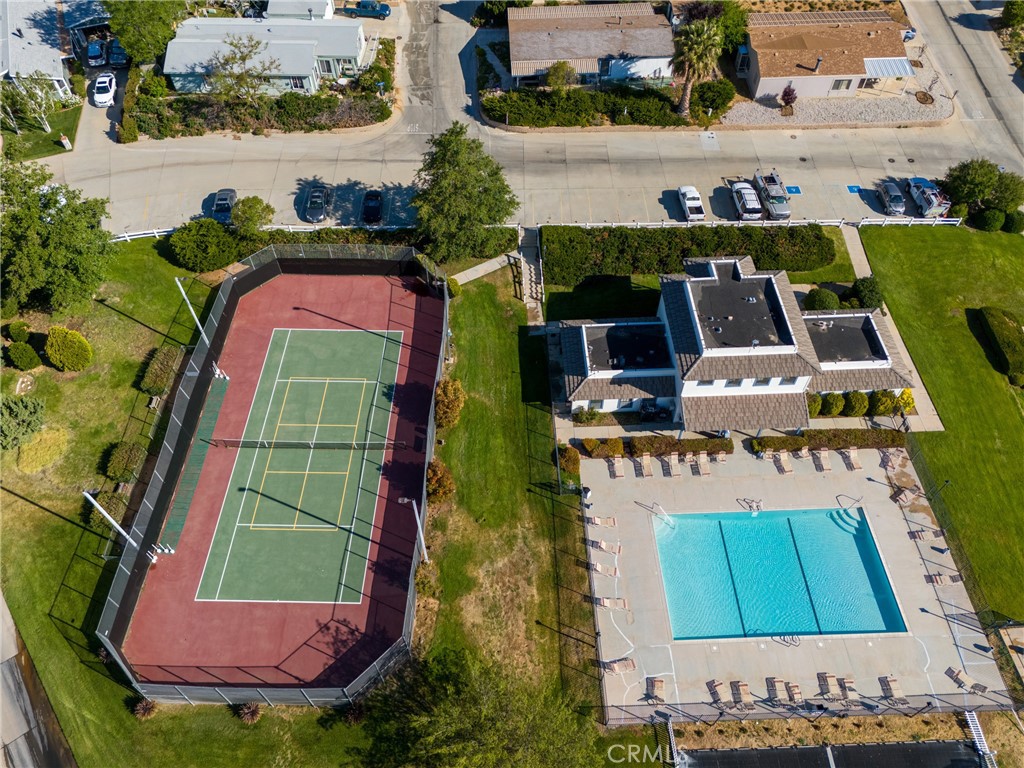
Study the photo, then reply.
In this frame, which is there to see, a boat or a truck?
truck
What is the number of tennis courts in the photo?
1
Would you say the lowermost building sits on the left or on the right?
right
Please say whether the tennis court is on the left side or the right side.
left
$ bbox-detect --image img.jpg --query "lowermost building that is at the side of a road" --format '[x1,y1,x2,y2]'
[560,256,916,440]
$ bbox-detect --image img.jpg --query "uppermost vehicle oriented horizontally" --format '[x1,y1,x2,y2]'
[344,0,387,20]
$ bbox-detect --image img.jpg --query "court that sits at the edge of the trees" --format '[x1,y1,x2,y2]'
[121,274,446,704]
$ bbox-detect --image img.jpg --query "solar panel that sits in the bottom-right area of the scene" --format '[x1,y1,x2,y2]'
[675,736,995,768]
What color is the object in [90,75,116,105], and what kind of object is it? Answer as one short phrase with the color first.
white car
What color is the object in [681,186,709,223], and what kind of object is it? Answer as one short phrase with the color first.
white truck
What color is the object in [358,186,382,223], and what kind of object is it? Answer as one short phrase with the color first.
black car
